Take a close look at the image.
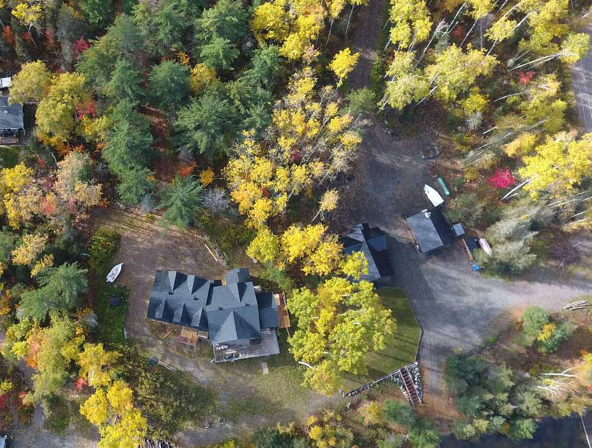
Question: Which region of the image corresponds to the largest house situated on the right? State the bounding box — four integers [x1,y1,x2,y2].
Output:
[333,223,396,291]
